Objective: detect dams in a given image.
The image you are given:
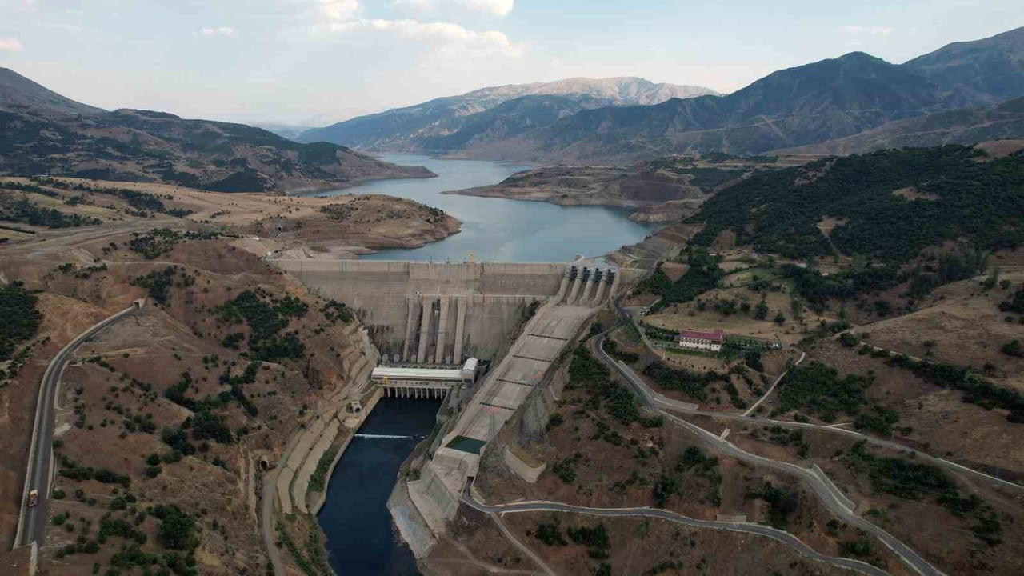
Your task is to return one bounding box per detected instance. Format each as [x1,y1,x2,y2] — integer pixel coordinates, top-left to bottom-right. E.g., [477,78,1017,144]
[263,257,567,360]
